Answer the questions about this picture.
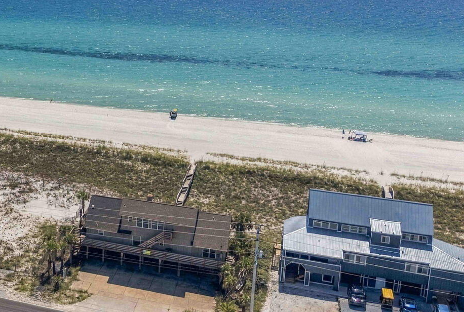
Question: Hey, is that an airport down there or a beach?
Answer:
beach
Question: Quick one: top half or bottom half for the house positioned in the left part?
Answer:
bottom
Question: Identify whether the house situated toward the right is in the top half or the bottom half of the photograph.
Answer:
bottom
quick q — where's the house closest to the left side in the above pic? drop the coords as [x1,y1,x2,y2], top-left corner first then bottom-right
[70,191,233,283]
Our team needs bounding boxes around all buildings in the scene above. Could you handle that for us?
[279,187,464,302]
[70,191,233,283]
